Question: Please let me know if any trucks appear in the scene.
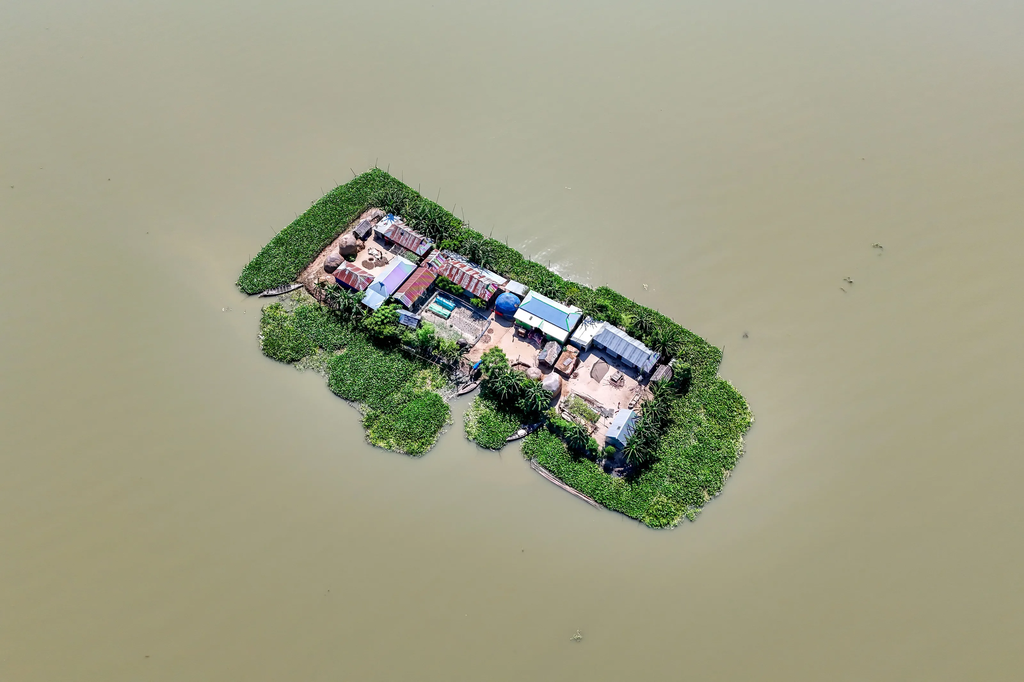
No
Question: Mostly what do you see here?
water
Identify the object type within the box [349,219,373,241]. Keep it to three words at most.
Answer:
shed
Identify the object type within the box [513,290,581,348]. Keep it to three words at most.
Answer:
building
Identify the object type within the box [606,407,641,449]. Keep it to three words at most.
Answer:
house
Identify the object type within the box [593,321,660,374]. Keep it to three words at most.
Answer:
house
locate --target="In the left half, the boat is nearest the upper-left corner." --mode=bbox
[258,283,302,298]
